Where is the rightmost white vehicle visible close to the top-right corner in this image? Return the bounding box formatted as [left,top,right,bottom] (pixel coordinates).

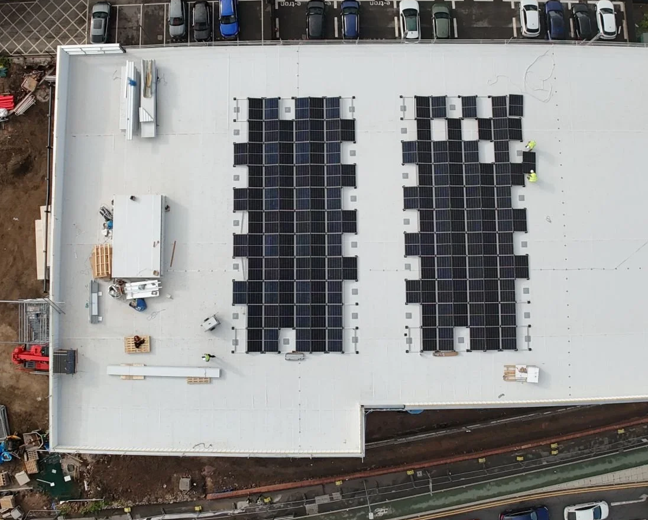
[595,0,617,39]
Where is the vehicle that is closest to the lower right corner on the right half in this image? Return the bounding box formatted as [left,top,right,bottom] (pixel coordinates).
[563,499,609,520]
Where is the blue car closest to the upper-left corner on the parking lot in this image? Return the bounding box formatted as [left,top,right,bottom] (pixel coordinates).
[216,0,240,38]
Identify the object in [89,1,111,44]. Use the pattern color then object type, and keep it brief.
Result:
gray car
